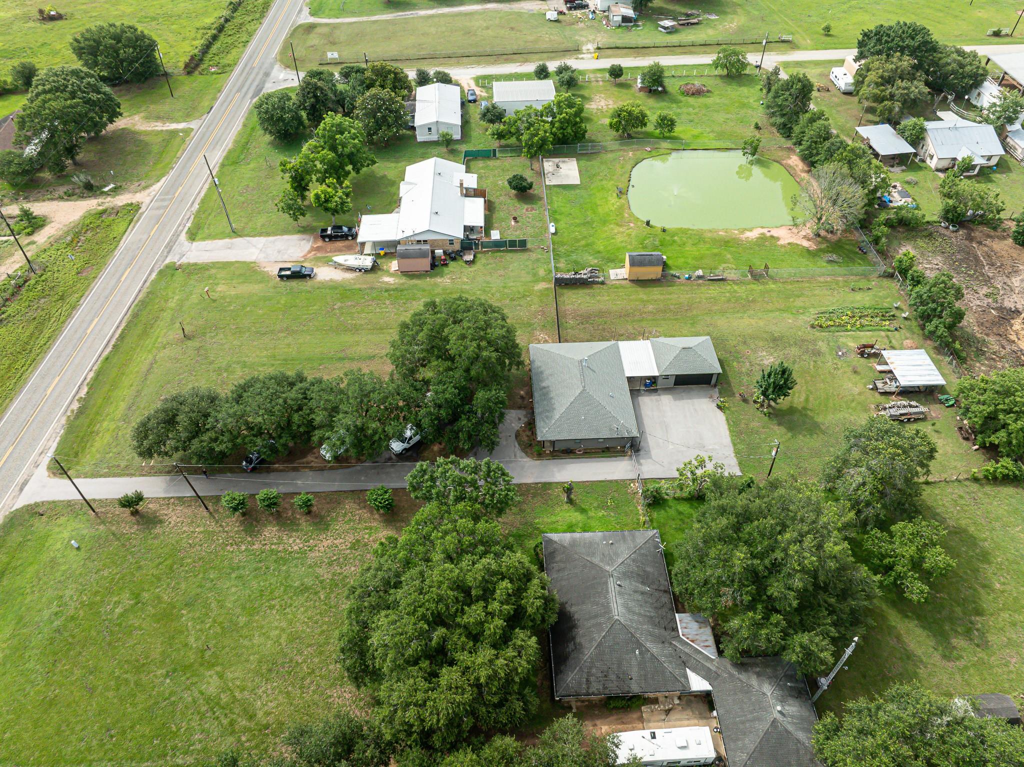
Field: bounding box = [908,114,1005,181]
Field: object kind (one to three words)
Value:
house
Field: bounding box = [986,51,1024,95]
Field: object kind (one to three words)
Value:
barn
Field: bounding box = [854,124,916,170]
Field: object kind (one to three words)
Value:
shed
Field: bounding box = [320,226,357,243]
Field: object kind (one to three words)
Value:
vehicle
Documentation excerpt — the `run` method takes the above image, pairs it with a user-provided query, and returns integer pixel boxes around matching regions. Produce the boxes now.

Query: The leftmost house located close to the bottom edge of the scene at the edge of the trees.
[541,528,826,767]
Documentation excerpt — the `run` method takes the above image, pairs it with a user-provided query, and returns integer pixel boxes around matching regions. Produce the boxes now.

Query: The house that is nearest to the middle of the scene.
[529,341,639,451]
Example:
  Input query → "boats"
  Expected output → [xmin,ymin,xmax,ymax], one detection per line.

[331,254,378,269]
